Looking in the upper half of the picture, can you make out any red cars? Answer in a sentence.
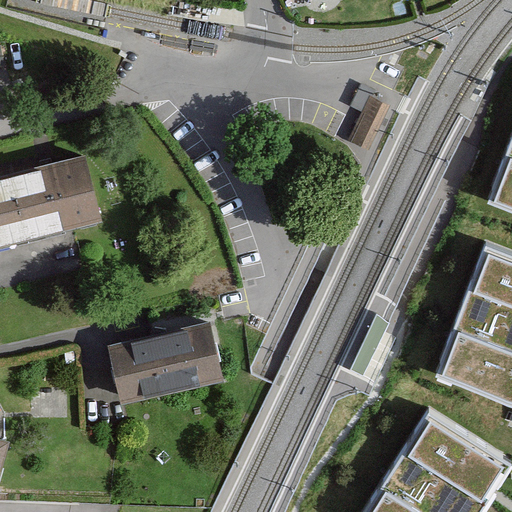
No, no red car appears in the upper half of the picture.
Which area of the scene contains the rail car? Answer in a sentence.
Look in the top portion of the view to spot the rail car.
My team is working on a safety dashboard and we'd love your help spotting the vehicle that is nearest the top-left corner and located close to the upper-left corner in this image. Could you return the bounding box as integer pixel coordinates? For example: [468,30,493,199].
[10,43,23,70]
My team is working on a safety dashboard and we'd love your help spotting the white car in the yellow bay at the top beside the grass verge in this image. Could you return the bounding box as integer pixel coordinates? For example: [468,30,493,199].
[376,62,402,79]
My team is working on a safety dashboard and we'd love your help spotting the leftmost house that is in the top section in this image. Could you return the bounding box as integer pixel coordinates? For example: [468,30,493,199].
[0,154,102,248]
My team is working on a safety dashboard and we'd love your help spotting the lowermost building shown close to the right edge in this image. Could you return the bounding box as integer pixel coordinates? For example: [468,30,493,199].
[360,404,512,512]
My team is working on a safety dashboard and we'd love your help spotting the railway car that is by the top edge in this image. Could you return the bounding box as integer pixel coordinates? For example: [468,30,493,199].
[185,18,226,38]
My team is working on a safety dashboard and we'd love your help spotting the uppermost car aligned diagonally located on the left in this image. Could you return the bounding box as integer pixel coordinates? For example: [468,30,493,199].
[172,120,195,140]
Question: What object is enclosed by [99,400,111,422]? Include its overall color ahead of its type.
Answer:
gray vehicle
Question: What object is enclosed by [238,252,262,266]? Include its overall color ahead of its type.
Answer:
white car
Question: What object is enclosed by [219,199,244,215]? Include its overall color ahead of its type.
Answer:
white car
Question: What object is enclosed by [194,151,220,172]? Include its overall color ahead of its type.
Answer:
white vehicle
